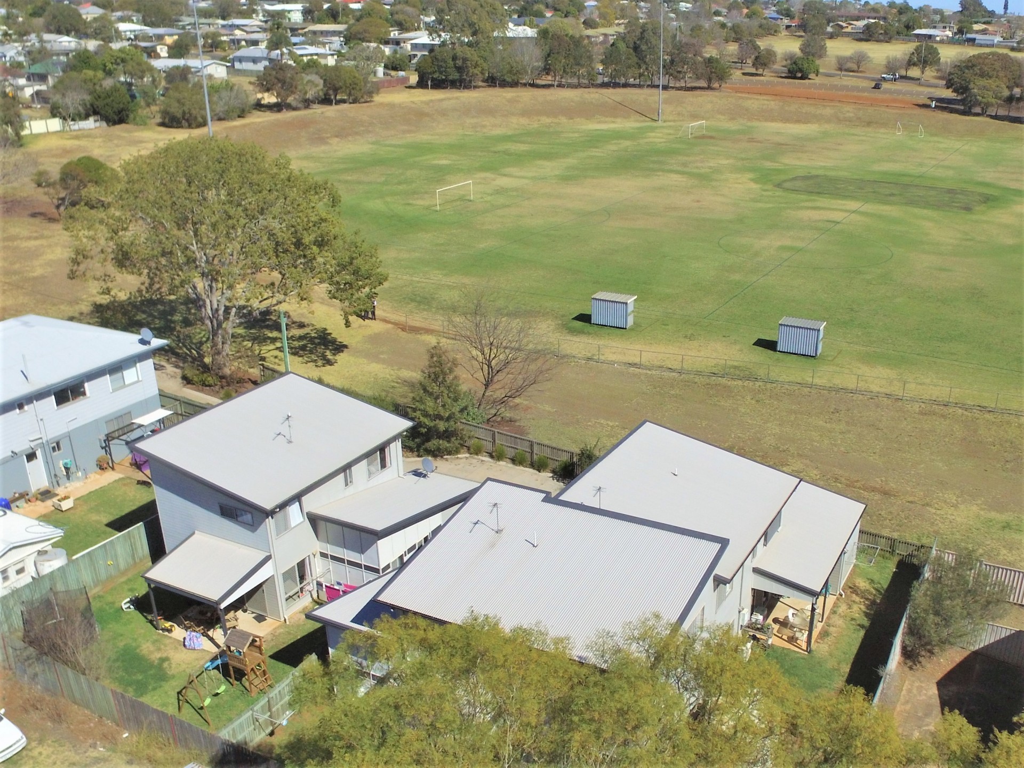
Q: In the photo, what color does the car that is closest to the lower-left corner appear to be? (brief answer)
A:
white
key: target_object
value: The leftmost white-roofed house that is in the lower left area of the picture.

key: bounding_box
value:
[0,515,56,602]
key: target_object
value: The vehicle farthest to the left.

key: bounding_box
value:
[0,705,37,763]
